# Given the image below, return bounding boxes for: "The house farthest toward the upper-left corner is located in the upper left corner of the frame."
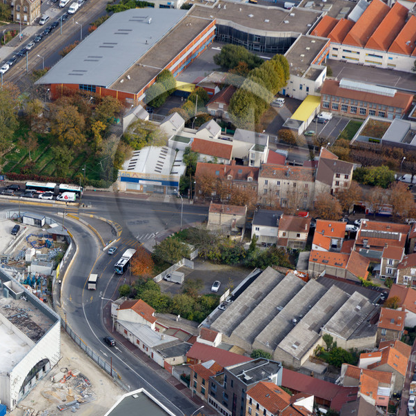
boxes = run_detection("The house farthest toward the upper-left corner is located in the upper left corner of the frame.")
[12,0,41,24]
